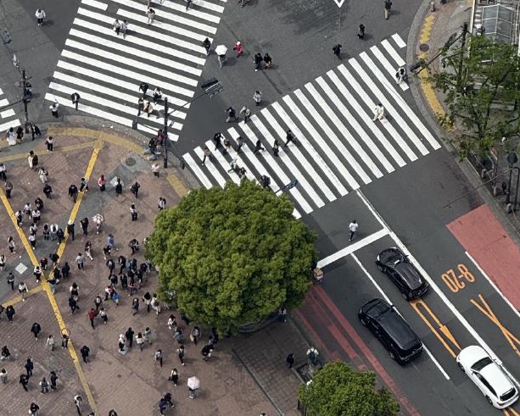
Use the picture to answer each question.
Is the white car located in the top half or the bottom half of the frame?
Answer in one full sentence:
The bottom half of the photo is where the white car is.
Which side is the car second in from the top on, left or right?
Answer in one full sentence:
The car second in from the top sits on the right side.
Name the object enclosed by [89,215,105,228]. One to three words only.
umbrella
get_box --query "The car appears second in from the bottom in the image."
[360,298,423,370]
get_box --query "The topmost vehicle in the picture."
[374,245,431,307]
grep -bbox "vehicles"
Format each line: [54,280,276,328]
[457,344,520,413]
[360,298,423,370]
[374,245,431,307]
